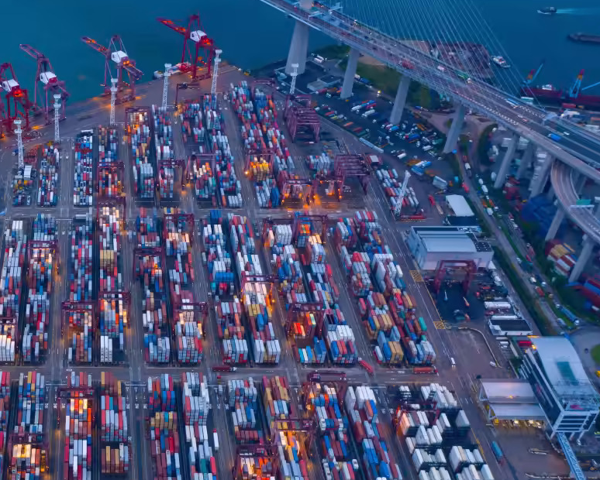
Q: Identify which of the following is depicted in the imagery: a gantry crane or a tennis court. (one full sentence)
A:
This aerial view contains a gantry crane.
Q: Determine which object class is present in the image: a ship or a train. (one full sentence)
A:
Visible in the photo is a ship.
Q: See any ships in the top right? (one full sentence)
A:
Yes, I can see a ship in the top right.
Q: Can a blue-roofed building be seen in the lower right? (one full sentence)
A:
Yes, I can see a blue-roofed building in the lower right.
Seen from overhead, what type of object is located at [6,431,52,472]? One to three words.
container crane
